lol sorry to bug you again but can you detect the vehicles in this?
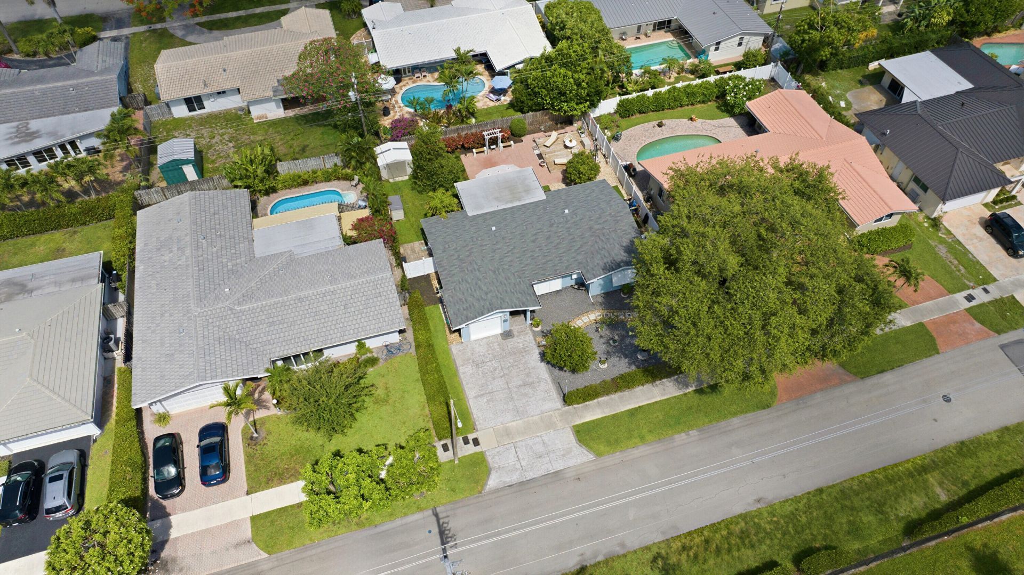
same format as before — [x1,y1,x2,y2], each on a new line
[195,423,232,488]
[987,213,1024,260]
[38,449,83,520]
[0,460,42,531]
[150,431,187,501]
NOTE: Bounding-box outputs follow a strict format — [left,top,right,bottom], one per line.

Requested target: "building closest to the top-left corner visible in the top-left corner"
[0,35,130,168]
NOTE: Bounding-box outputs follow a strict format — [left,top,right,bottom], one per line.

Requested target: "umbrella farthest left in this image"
[372,75,399,96]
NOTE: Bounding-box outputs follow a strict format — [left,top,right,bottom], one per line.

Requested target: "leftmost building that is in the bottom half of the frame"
[0,249,107,456]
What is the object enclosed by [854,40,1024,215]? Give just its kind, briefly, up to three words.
house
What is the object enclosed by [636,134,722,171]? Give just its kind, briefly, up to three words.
swimming pool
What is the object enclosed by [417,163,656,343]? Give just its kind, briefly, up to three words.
house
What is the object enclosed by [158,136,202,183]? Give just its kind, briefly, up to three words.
shed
